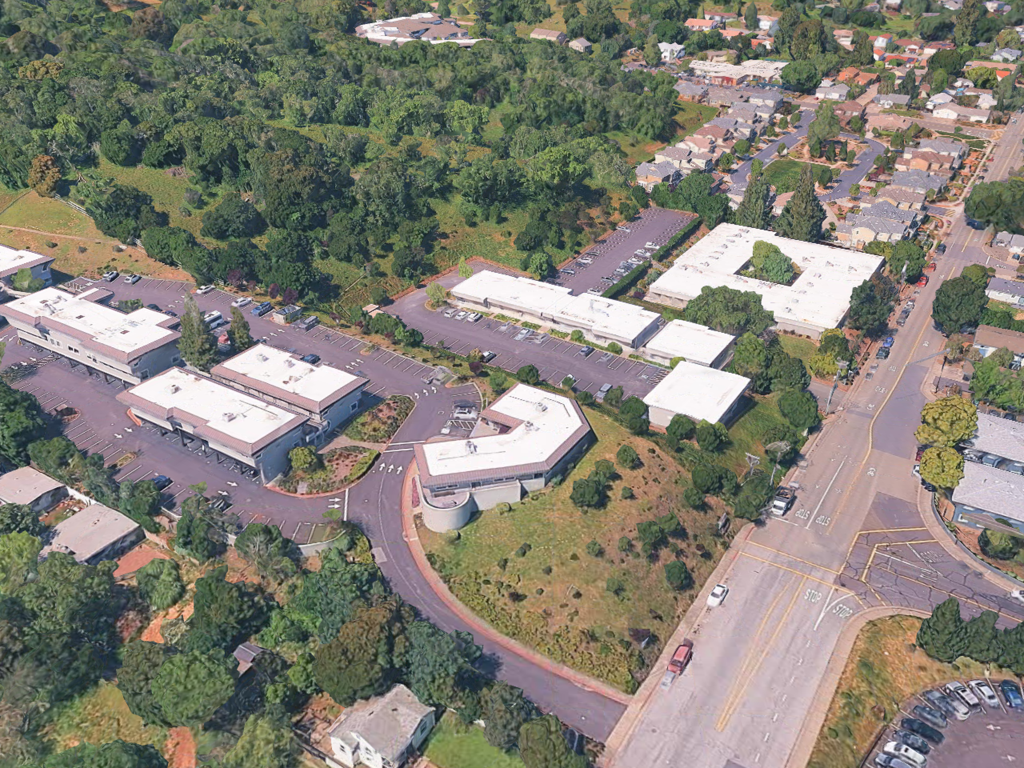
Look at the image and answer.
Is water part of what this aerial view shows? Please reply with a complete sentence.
No, there is no water in the image.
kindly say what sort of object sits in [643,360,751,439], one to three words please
building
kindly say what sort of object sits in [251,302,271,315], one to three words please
vehicle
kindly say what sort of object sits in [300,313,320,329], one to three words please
vehicle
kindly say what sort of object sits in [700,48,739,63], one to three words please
house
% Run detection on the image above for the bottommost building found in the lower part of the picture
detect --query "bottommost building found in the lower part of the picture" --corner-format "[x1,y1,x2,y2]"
[309,675,432,768]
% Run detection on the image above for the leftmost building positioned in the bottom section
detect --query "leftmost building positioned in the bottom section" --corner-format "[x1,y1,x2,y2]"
[0,466,66,510]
